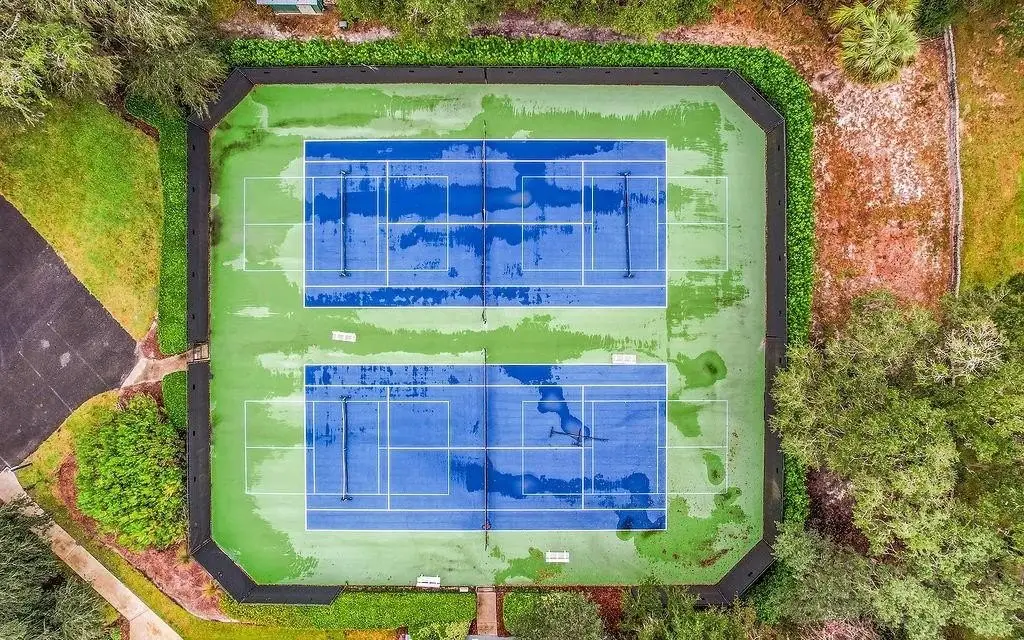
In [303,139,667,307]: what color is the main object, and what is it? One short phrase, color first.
blue tennis court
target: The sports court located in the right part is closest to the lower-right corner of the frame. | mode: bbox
[522,401,729,494]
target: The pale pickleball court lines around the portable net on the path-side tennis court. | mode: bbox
[245,401,449,495]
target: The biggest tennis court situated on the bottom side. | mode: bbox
[304,364,668,531]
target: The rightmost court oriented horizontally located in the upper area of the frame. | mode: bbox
[522,177,729,271]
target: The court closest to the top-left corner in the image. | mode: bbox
[244,177,448,271]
